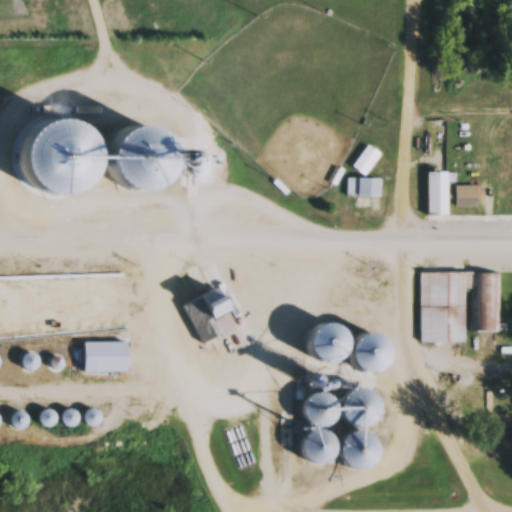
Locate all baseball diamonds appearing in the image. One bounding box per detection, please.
[172,0,400,201]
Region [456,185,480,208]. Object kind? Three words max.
house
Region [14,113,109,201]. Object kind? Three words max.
silo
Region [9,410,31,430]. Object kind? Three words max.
silo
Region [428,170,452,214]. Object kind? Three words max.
shed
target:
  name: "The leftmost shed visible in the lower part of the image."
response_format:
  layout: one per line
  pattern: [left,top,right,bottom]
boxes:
[84,342,130,372]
